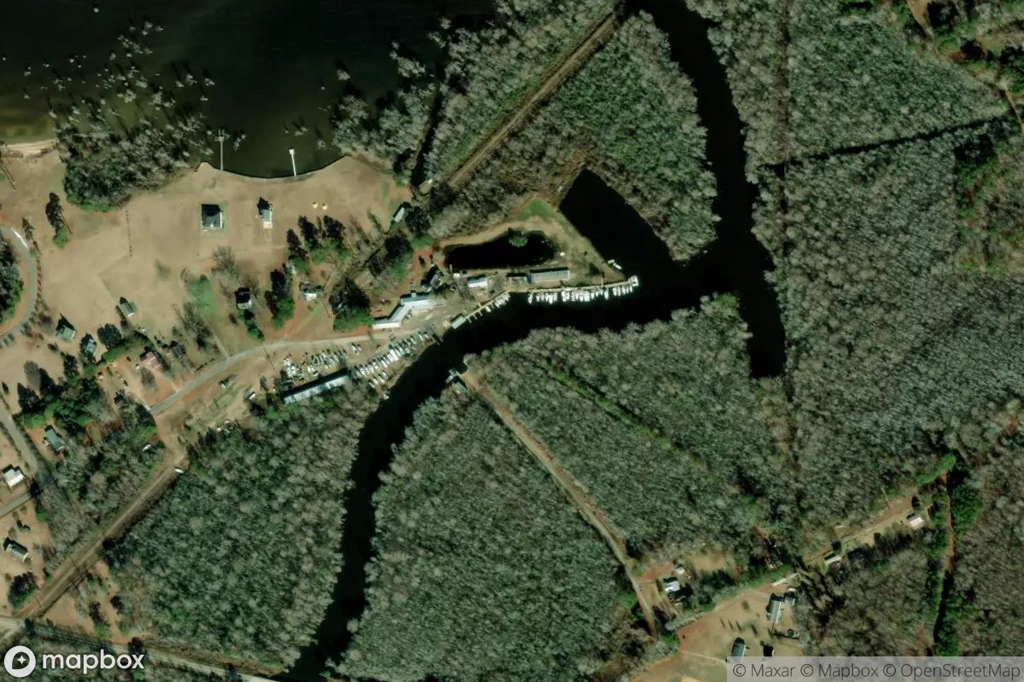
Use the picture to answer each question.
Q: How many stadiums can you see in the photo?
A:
zero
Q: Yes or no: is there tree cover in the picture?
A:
Yes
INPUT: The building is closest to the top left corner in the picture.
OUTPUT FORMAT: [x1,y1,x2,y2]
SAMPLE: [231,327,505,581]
[203,209,222,228]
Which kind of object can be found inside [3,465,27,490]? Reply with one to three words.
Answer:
house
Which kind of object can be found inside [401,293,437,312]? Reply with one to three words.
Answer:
building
